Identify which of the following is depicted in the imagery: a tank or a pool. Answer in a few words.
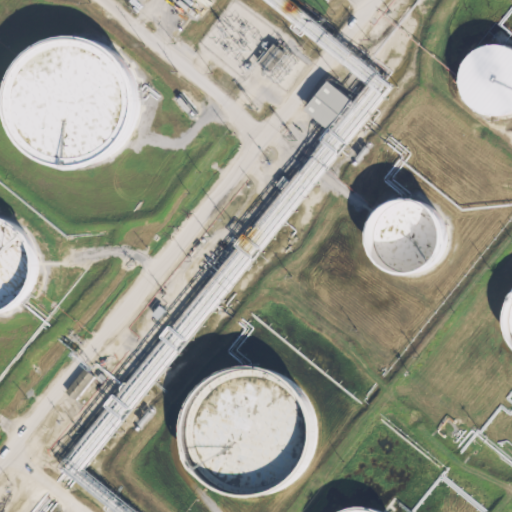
tank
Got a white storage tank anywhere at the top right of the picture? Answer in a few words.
Yes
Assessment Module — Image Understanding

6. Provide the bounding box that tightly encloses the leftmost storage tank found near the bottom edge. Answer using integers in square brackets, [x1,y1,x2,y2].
[176,366,317,498]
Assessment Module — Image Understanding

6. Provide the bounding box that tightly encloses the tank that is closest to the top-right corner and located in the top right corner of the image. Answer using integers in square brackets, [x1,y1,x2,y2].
[458,42,512,120]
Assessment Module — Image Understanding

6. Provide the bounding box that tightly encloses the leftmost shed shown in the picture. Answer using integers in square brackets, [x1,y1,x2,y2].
[68,372,99,403]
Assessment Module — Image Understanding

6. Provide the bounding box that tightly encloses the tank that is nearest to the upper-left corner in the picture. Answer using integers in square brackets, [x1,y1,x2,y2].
[0,34,143,170]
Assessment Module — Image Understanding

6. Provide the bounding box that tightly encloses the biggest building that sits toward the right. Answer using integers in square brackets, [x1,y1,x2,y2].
[304,81,354,128]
